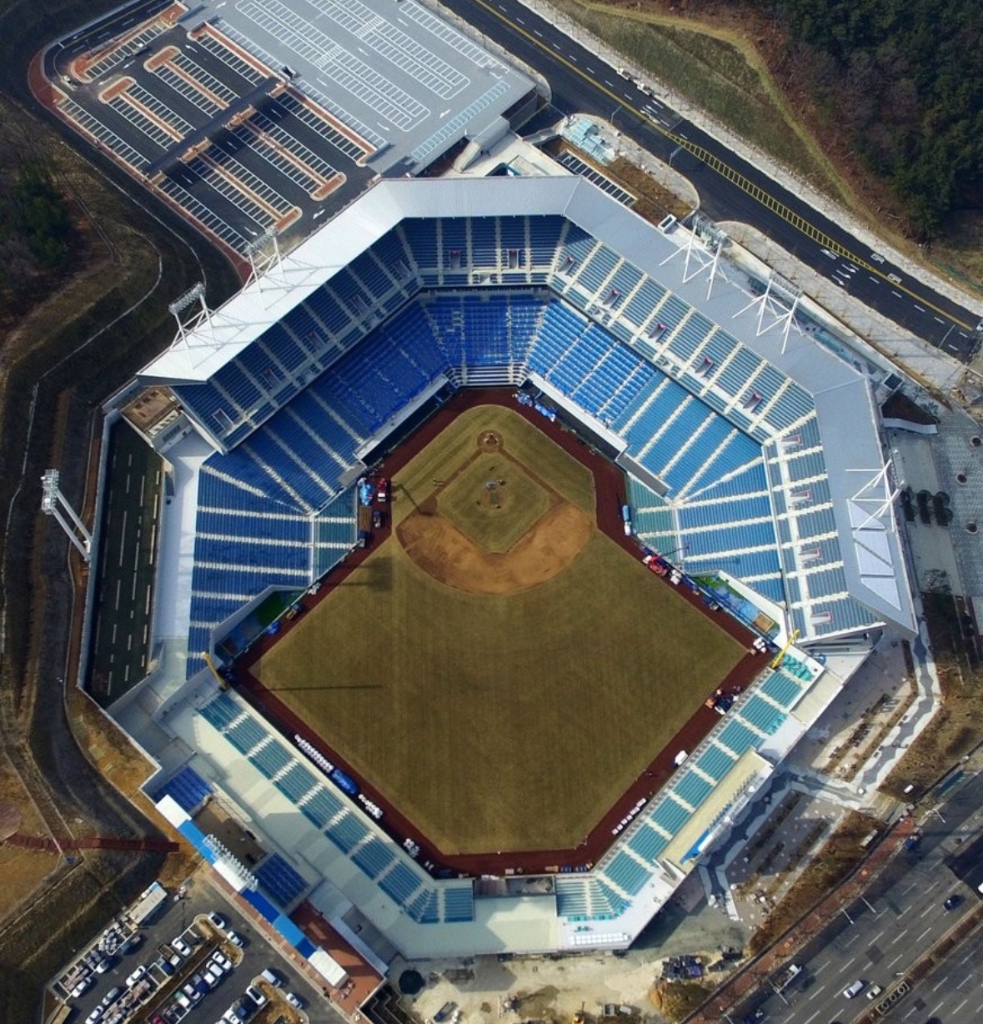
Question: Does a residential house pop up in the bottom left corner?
No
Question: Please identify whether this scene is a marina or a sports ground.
sports ground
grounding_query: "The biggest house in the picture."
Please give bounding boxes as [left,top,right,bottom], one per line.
[122,385,191,454]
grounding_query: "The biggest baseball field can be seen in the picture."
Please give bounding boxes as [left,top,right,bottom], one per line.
[227,386,770,880]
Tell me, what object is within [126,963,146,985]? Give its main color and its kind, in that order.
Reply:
white car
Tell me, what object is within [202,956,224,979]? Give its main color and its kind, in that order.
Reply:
white vehicle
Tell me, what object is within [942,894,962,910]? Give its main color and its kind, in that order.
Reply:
black car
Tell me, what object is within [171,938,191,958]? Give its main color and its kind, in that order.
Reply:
white car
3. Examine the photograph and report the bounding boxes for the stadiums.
[78,174,926,1020]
